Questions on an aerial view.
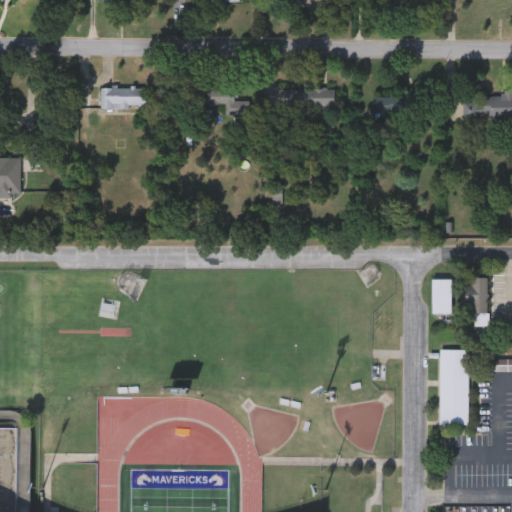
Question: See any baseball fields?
Yes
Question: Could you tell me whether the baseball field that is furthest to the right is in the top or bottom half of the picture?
bottom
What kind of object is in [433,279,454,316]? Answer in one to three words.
building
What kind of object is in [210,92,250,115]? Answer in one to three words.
house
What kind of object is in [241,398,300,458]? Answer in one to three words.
baseball field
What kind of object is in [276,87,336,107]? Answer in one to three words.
house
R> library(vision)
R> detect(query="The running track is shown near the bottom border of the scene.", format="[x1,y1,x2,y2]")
[100,396,262,512]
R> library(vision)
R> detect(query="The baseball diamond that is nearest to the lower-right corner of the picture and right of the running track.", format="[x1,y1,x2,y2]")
[333,394,394,453]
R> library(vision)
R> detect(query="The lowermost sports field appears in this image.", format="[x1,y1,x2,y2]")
[122,464,240,512]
